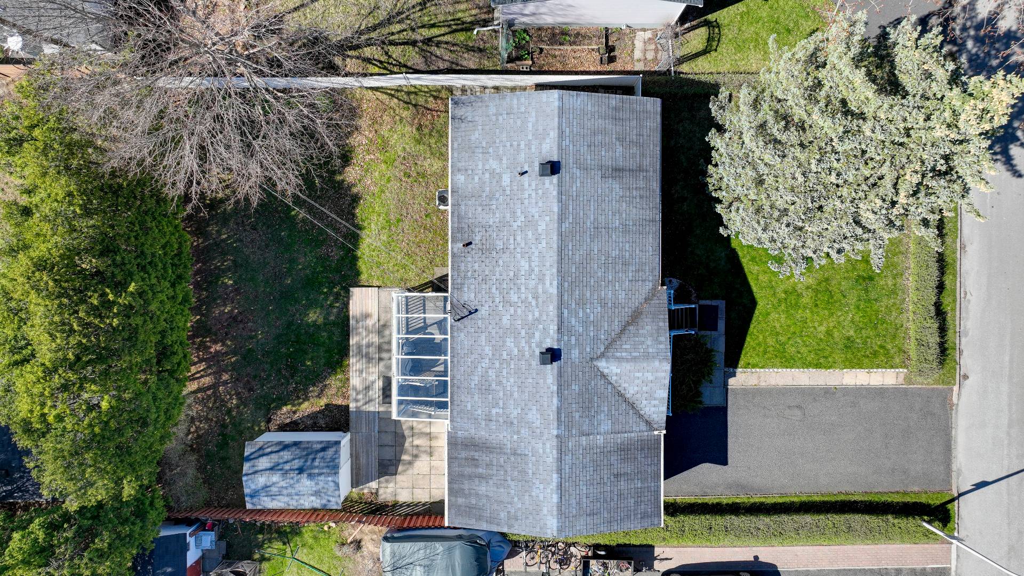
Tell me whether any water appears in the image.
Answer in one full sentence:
No, the scene doesn't show any water.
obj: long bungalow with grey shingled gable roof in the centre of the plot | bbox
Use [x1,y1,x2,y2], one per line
[443,89,671,538]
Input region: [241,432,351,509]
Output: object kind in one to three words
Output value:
shed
